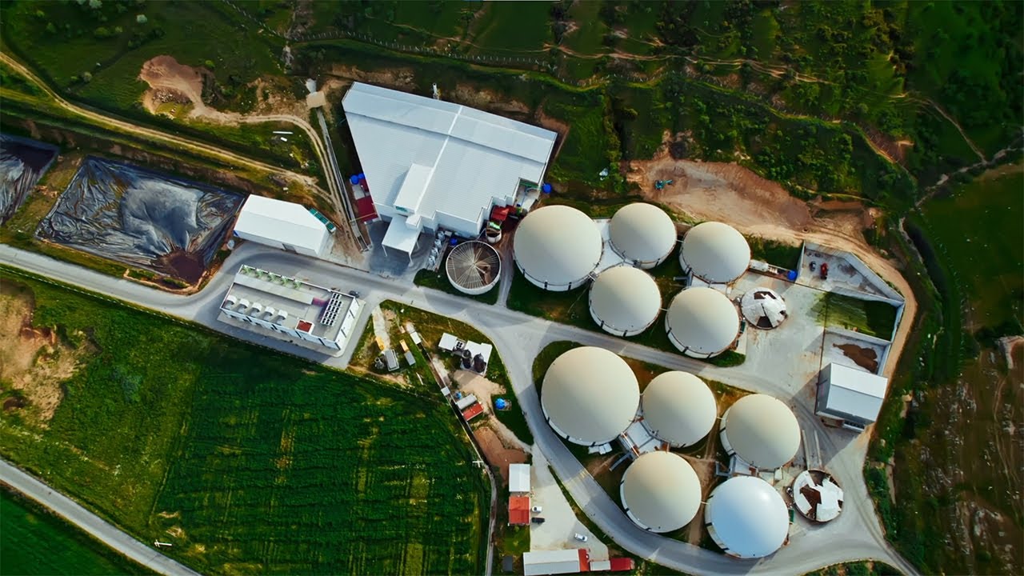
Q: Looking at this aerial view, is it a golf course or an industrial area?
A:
industrial area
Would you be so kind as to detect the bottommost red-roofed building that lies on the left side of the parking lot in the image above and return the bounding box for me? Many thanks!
[509,497,529,524]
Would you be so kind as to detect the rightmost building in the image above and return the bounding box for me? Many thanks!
[817,363,884,434]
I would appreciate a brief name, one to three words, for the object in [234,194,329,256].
shed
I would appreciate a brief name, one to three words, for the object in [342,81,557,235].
building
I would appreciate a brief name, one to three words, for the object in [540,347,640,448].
storage tank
